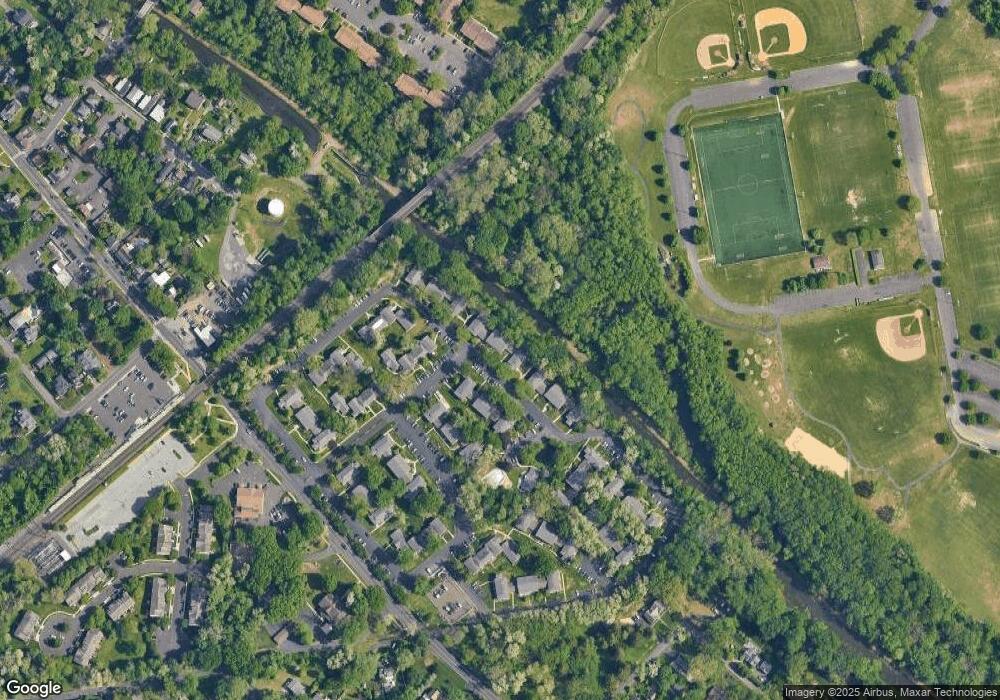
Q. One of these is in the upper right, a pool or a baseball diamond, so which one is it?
baseball diamond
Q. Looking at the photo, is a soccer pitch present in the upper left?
No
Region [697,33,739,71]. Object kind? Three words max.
baseball field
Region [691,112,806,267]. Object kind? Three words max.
soccer field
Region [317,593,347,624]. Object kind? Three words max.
house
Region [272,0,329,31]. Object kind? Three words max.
building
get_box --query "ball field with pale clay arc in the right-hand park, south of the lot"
[876,305,930,361]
